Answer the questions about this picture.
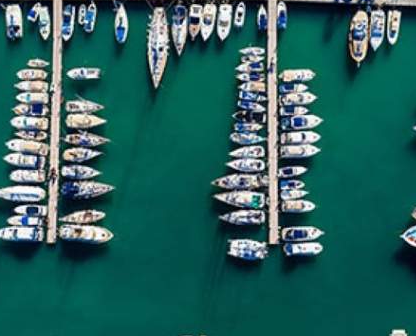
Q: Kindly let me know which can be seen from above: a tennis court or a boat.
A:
boat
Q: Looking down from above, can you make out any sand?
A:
No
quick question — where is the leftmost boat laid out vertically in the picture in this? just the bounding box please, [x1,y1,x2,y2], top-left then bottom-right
[6,4,22,40]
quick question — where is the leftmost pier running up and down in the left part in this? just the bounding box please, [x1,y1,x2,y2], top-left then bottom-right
[47,0,63,244]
